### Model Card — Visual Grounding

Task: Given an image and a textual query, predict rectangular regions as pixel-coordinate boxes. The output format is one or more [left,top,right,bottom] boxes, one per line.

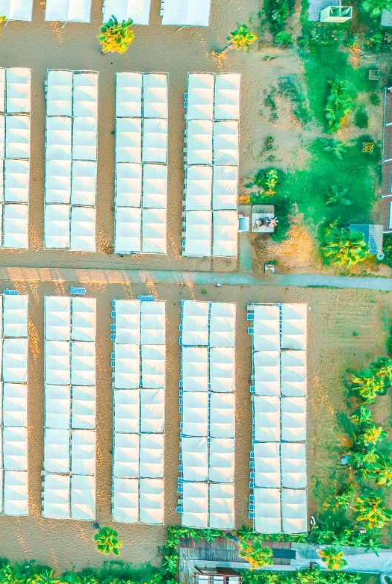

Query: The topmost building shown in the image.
[318,6,351,23]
